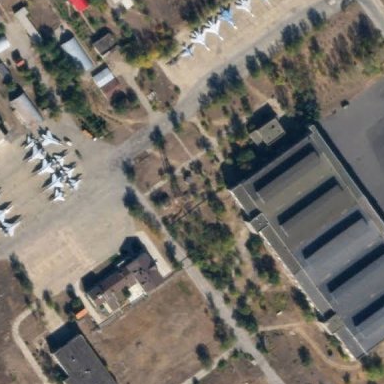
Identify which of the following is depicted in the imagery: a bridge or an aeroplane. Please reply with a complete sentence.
There is an aeroplane in the scene.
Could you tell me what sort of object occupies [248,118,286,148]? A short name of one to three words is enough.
building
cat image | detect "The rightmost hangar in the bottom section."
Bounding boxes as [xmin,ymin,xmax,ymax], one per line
[228,124,384,360]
